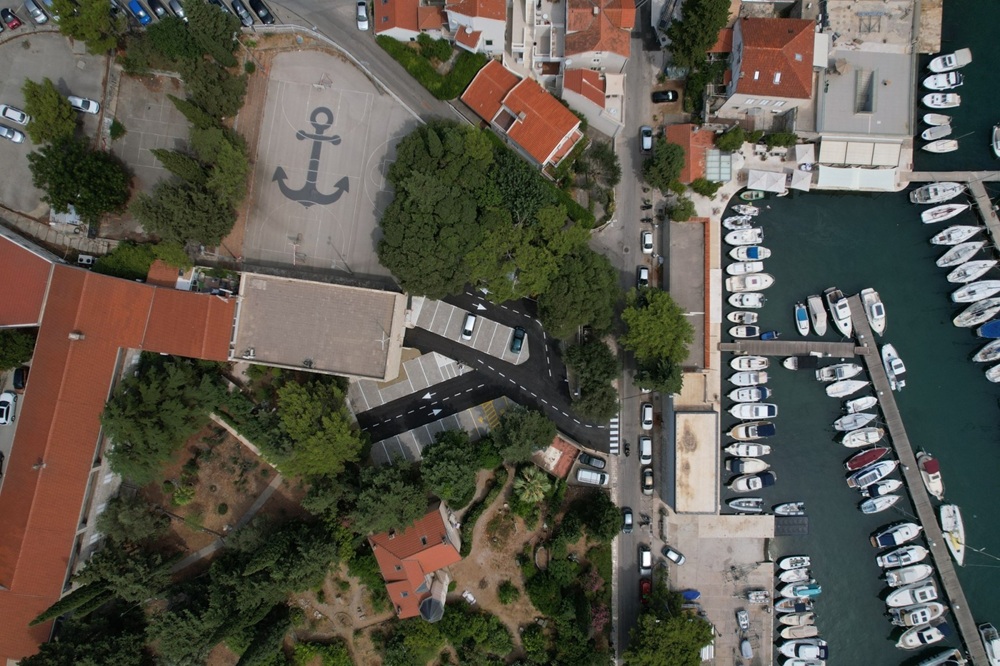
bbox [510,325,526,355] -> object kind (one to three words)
car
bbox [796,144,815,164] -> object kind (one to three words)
umbrella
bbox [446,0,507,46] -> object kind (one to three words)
house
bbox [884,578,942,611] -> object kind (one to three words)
boat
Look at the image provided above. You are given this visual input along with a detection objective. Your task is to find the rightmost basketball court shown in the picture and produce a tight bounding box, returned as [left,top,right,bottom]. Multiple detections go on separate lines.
[243,49,422,296]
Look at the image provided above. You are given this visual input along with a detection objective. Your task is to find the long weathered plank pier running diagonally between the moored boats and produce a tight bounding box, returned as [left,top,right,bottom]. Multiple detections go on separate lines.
[847,293,987,666]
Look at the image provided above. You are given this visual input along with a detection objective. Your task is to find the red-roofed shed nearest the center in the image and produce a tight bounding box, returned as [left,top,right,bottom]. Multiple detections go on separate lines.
[532,433,579,478]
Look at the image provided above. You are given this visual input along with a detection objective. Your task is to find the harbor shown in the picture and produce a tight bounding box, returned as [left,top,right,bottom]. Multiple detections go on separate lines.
[661,134,914,666]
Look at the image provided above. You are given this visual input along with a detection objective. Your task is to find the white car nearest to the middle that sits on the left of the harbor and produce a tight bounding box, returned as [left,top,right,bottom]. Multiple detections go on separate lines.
[461,312,478,341]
